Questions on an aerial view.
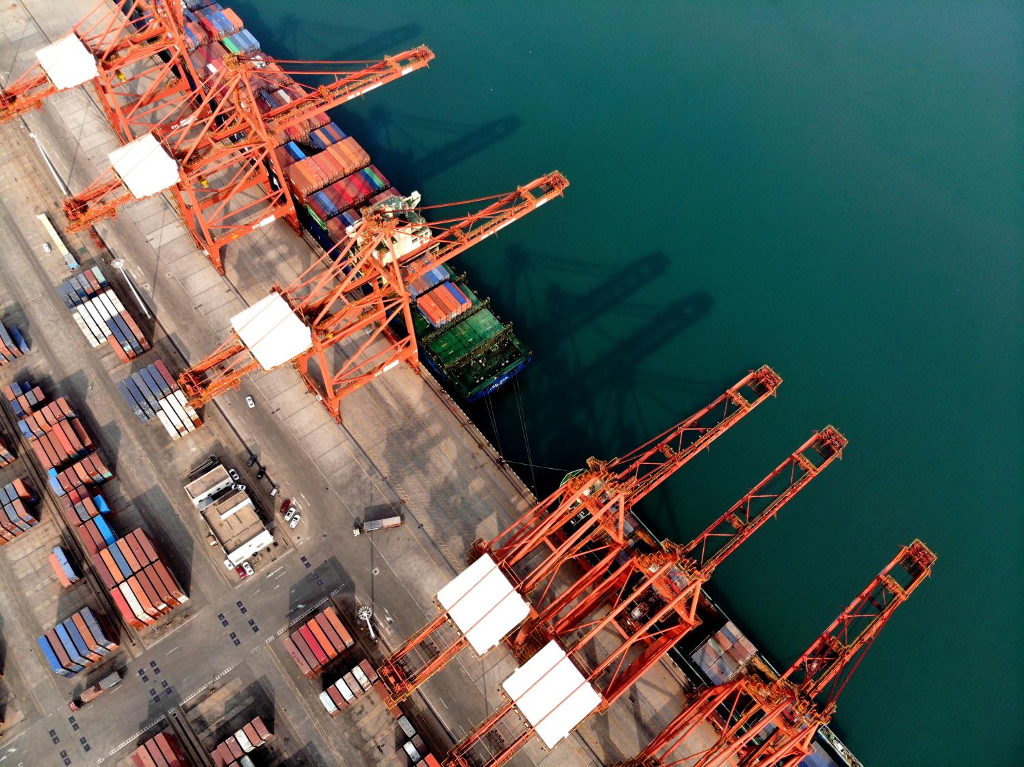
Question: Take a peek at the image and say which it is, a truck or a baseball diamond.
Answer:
truck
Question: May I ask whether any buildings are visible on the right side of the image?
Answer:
No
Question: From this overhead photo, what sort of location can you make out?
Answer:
port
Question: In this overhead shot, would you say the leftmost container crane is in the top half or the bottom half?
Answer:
top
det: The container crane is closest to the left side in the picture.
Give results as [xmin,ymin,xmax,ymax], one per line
[0,0,219,145]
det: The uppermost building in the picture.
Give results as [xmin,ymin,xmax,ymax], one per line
[184,463,236,509]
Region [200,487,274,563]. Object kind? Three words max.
building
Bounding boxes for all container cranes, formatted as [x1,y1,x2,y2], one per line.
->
[171,166,576,421]
[50,39,437,267]
[432,420,857,767]
[366,358,790,715]
[628,535,950,767]
[0,0,219,145]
